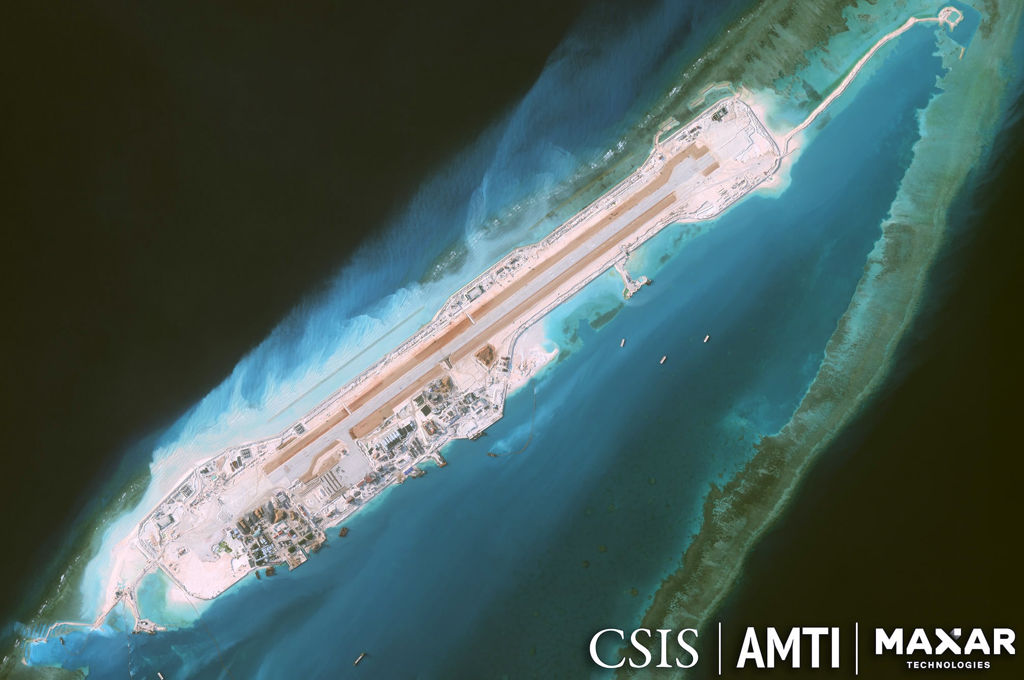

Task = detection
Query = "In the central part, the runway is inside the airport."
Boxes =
[266,179,677,487]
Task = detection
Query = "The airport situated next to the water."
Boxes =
[262,142,720,499]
